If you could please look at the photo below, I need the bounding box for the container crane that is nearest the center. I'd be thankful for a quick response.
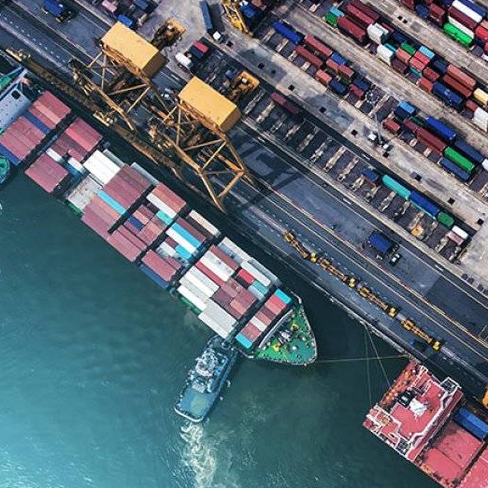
[111,71,260,217]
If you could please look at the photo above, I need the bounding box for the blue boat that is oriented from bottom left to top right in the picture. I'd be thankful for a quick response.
[168,339,238,425]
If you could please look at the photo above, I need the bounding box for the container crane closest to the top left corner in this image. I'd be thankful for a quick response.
[21,16,184,164]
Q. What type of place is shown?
port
